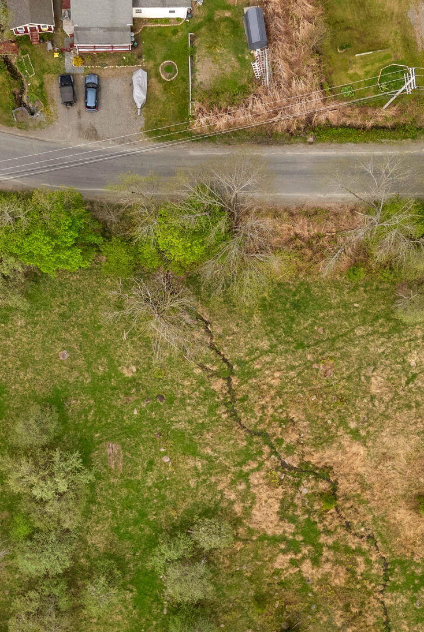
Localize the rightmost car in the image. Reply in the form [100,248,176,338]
[82,73,99,111]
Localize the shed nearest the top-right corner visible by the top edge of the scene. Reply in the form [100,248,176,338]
[244,1,270,49]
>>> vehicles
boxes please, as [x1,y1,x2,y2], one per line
[82,73,99,111]
[58,73,76,109]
